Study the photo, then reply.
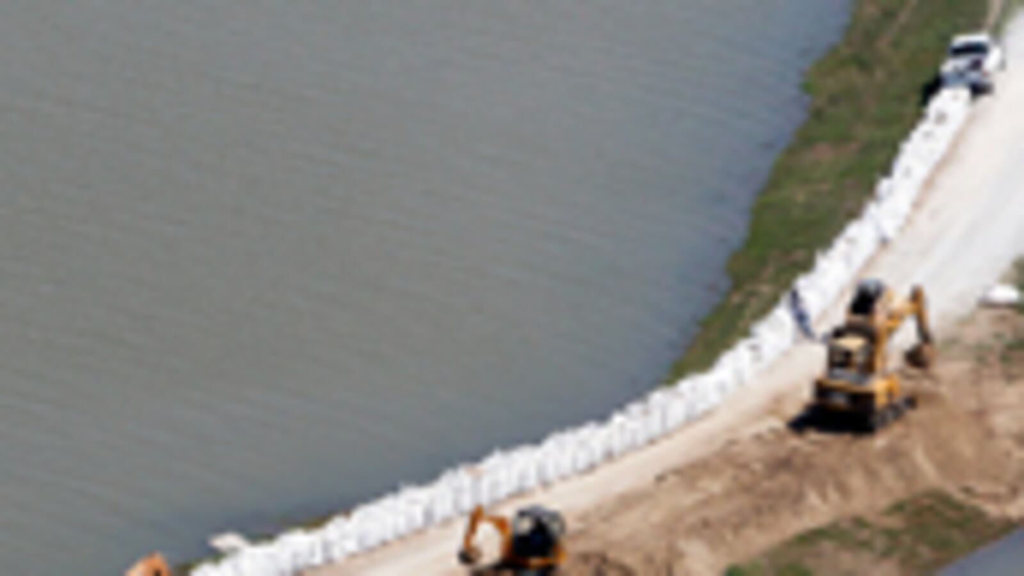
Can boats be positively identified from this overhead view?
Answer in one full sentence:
No, there appears to be no boat in this shot.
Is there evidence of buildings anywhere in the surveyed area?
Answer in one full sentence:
No, the picture doesn't show any building.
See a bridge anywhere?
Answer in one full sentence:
No, there is no bridge in the image.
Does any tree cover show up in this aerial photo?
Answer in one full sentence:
No, tree cover can't be seen anywhere here.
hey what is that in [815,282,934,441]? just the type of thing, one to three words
work vehicle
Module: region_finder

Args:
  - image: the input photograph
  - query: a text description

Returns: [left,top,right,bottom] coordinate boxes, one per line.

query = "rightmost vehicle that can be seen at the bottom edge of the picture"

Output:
[460,500,567,576]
